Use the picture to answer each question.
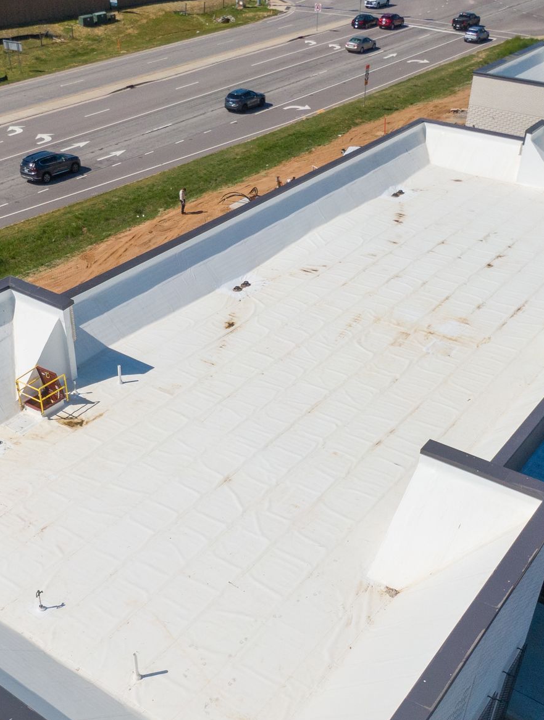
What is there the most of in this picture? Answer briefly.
buildings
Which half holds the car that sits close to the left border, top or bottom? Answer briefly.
top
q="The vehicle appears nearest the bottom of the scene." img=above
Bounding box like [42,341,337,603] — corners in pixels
[19,149,83,181]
